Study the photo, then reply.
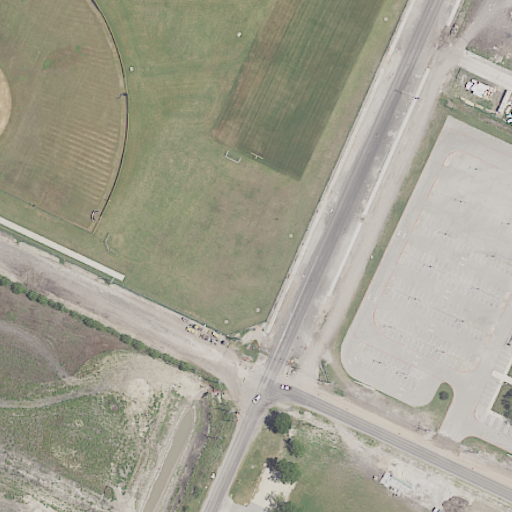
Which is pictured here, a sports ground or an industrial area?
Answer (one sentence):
It's a sports ground.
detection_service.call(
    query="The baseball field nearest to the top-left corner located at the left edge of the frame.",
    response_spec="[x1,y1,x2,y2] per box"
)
[0,0,126,232]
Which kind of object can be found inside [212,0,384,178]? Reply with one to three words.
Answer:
sports field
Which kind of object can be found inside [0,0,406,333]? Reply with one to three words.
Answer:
sports field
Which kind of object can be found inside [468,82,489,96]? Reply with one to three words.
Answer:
vehicle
